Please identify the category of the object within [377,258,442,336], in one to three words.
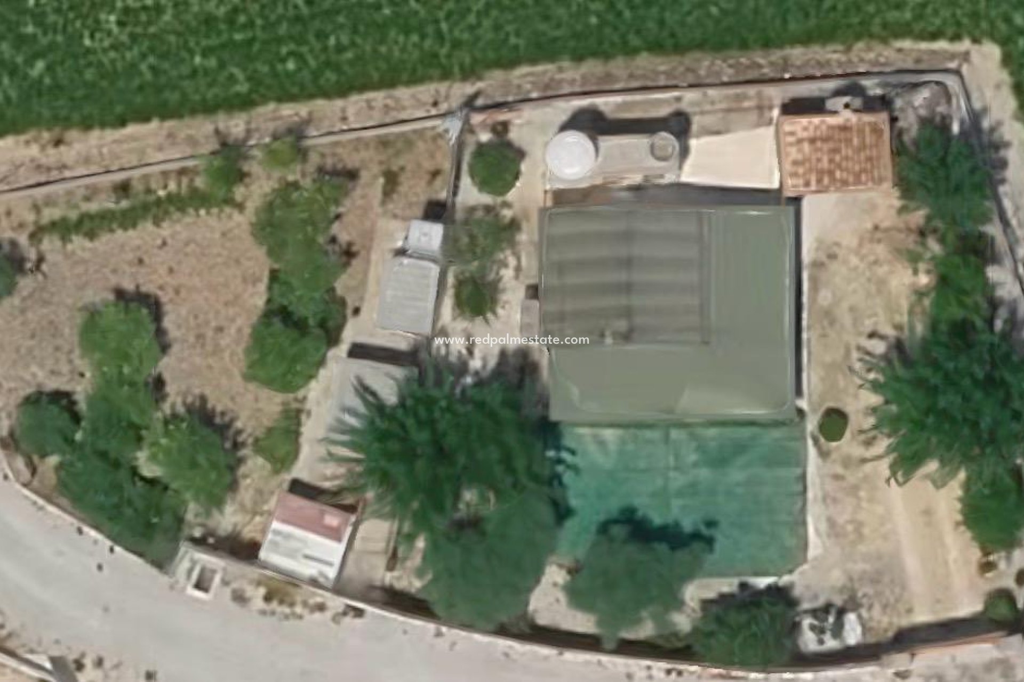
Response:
shed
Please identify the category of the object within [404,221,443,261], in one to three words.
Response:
shed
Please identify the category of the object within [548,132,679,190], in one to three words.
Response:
water tank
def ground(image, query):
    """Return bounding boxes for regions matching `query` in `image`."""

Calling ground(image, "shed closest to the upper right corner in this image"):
[777,111,893,197]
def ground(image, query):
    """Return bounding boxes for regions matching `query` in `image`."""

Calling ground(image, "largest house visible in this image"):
[540,207,796,423]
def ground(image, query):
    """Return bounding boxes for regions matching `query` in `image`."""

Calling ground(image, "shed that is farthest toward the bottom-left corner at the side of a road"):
[259,490,359,589]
